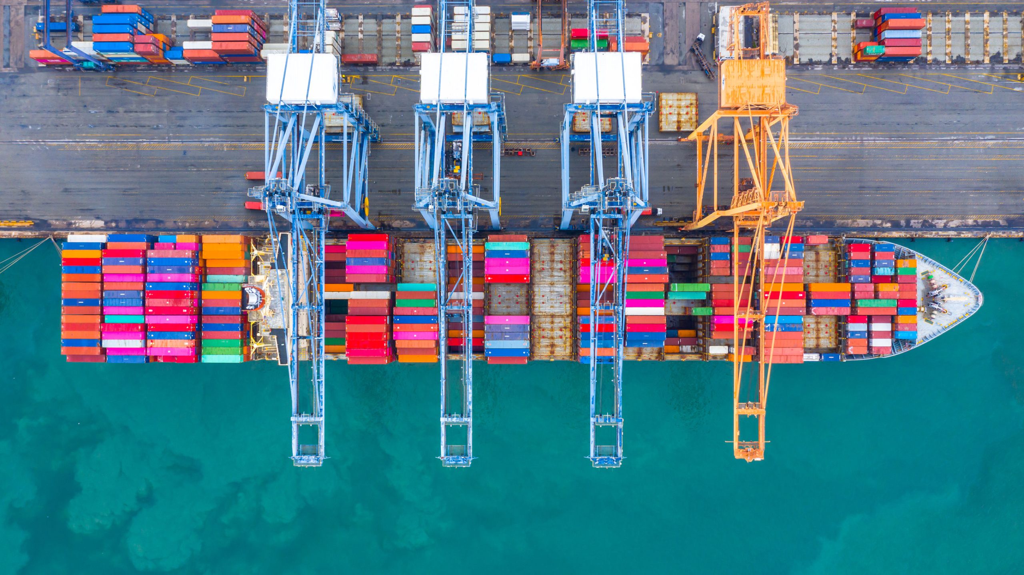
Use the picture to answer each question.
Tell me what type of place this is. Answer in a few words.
port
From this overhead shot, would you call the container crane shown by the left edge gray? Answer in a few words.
No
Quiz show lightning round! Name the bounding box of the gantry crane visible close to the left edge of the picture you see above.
[40,0,110,69]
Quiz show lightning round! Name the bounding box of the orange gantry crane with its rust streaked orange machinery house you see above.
[673,0,806,467]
